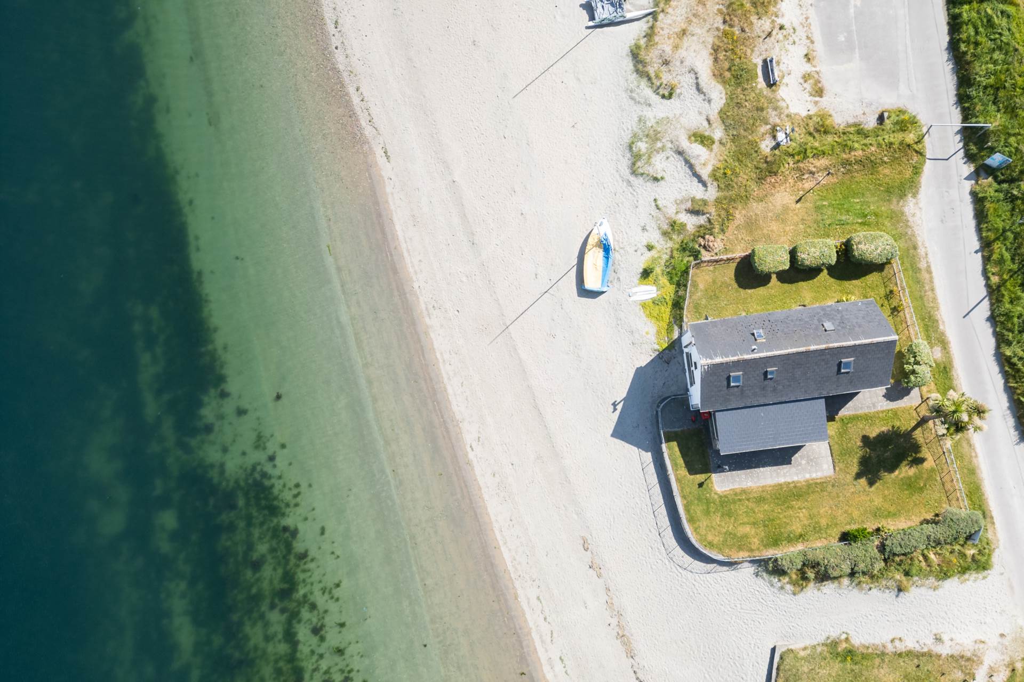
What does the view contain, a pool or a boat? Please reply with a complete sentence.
Of the two, only a boat appears.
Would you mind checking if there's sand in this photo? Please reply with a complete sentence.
Yes, there's sand in this view.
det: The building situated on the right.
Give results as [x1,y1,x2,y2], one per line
[678,298,899,456]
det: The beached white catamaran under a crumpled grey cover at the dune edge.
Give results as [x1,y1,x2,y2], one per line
[586,0,656,27]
